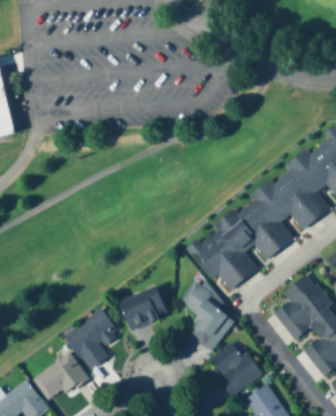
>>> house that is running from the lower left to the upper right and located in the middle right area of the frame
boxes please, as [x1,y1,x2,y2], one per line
[186,124,336,292]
